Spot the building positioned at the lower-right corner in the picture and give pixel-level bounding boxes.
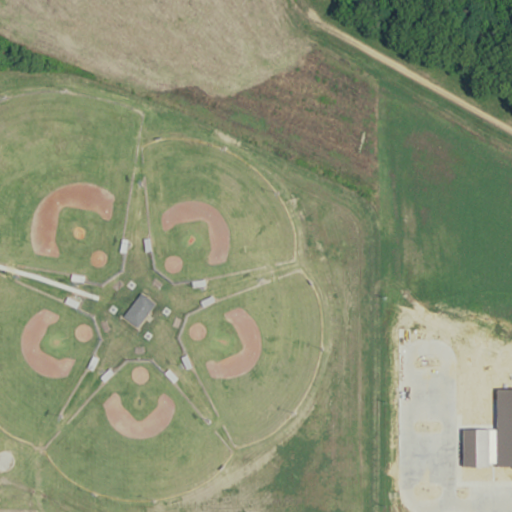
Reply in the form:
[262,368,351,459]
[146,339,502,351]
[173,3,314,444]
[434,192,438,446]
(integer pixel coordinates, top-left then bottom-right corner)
[464,389,512,468]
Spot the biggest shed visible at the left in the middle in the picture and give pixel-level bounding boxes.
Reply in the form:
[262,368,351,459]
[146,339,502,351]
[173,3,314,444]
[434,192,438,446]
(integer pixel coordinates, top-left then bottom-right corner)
[123,292,156,328]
